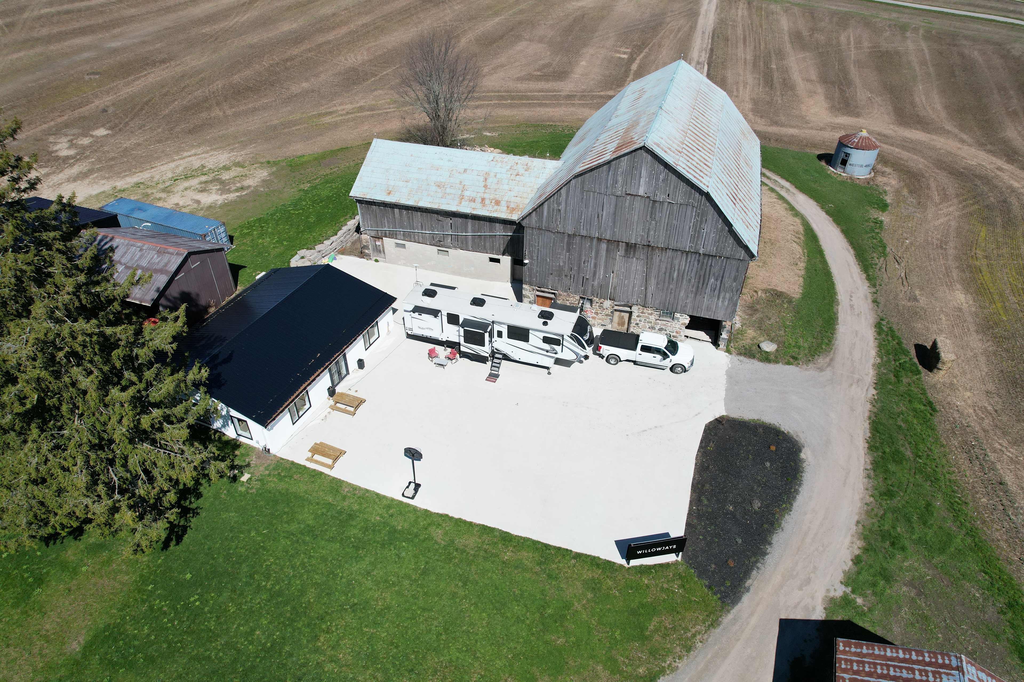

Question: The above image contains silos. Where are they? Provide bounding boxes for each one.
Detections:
[829,130,881,178]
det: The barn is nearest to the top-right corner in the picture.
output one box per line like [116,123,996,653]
[515,49,762,352]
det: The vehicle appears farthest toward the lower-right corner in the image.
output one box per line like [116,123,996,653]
[594,330,694,373]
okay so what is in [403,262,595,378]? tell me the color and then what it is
white trailer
